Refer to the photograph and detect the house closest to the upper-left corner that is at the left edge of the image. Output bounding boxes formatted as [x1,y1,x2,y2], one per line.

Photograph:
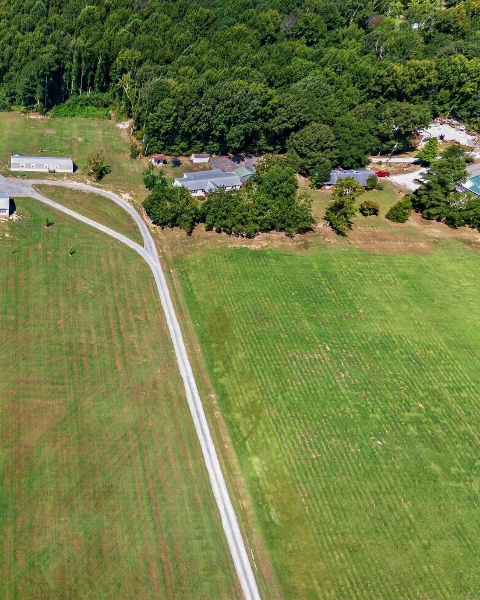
[10,156,73,176]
